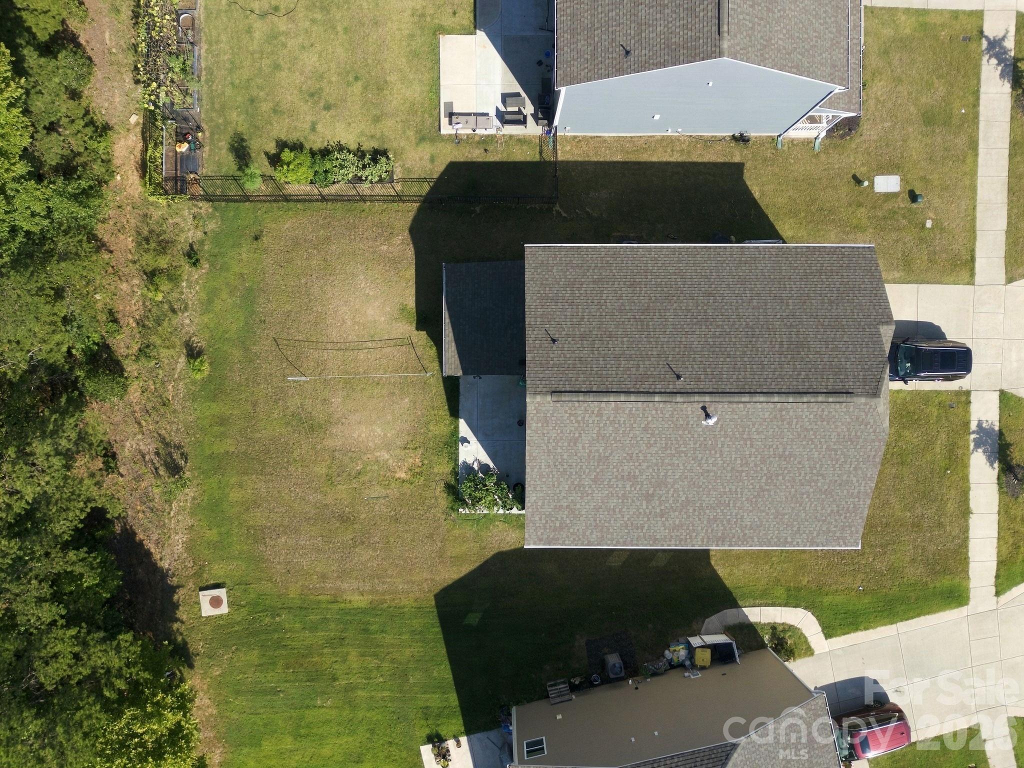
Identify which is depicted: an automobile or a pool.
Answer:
automobile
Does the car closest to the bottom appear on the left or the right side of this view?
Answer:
right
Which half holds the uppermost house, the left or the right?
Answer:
right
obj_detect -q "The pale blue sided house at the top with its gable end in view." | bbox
[553,0,864,138]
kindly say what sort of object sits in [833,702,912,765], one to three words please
car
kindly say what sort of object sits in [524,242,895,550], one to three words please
house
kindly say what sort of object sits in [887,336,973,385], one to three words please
car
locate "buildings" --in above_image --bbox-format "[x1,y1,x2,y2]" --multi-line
[505,647,844,768]
[553,0,864,138]
[524,242,895,550]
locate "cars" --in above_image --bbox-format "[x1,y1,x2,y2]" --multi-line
[887,336,973,385]
[833,702,912,765]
